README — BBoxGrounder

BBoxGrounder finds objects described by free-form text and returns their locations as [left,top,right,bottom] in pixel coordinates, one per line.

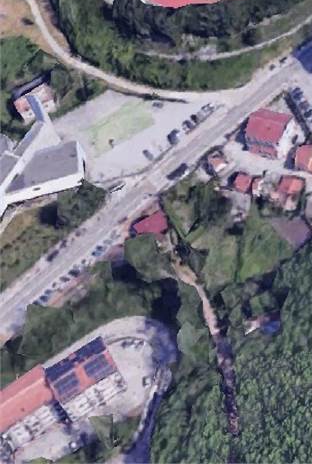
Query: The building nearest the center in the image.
[134,215,173,241]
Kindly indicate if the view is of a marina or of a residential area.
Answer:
residential area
